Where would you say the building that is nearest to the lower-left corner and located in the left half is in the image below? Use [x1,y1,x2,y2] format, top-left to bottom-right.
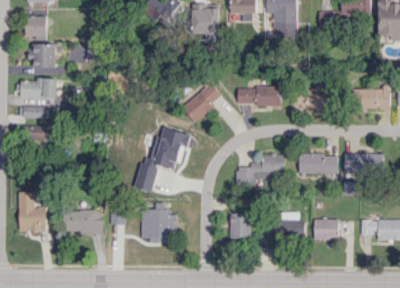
[18,190,46,233]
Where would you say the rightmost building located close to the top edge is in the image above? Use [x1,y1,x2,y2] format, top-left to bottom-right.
[379,0,400,42]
